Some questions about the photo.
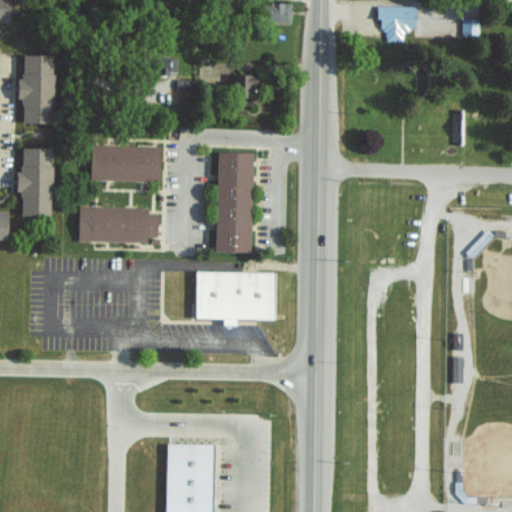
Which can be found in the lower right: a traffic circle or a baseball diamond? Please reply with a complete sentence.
Looking in the lower right, you will find a baseball diamond.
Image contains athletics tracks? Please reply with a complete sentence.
No, there isn't any athletics track down there.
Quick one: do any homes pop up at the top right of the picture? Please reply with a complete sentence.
Yes, a home is visible at the top right of the picture.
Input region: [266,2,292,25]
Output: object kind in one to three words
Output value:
house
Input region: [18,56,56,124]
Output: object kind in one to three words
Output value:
building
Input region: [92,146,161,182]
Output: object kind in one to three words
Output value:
building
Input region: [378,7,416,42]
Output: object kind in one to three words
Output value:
house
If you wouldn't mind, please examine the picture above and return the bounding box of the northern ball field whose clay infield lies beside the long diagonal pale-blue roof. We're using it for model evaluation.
[475,241,512,376]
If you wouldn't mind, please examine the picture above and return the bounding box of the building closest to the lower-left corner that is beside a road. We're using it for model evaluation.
[168,443,215,512]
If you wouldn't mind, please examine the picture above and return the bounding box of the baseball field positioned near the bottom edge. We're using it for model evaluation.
[464,378,512,498]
